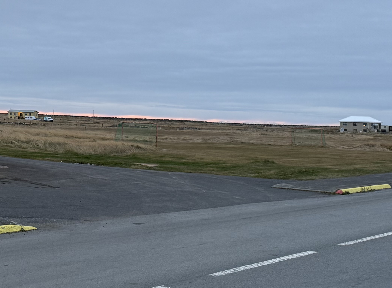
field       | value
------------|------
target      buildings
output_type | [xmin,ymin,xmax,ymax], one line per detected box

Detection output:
[7,106,39,120]
[337,116,383,132]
